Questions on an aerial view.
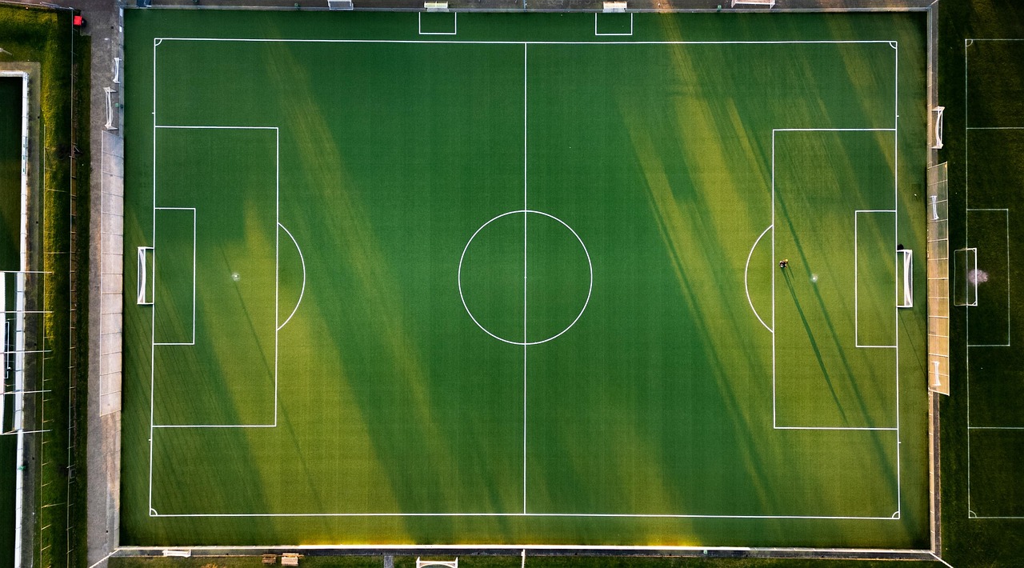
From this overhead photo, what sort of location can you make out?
sports ground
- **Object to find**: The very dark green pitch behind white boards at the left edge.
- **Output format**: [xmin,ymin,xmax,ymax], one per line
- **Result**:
[0,77,23,568]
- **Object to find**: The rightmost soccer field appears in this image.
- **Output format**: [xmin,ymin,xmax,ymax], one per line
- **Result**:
[952,16,1024,552]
